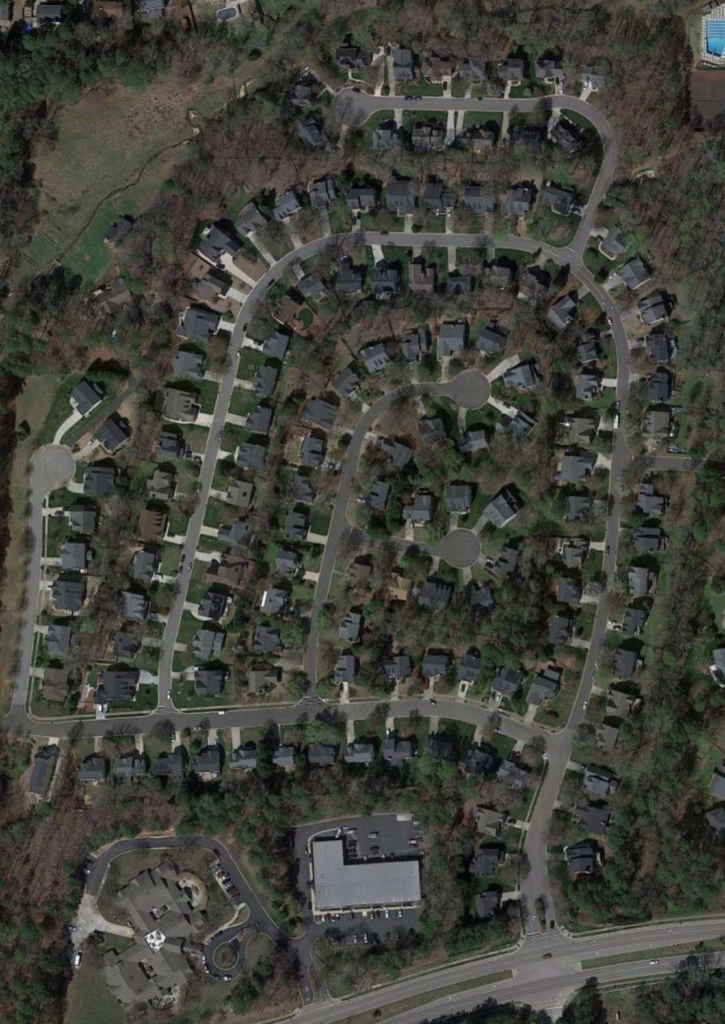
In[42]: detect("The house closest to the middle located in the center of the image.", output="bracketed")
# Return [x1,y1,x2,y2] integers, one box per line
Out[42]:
[368,480,391,510]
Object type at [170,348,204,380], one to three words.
house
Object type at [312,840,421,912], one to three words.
building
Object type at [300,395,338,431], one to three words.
house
